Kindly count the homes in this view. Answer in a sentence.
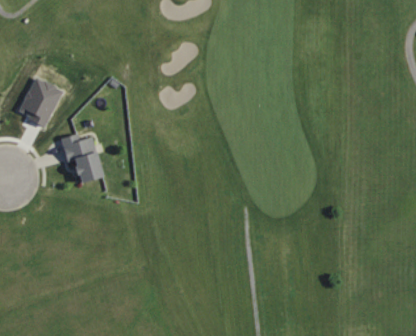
Altogether the scene contains 2 homes.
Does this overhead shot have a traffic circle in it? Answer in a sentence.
No, I can see no traffic circle in this picture.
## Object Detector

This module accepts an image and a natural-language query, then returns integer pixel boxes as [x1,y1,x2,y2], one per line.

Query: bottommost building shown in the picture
[62,135,101,182]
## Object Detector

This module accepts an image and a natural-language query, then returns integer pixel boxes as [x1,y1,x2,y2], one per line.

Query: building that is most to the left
[21,79,64,132]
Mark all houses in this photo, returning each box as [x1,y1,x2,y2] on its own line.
[21,79,64,132]
[62,135,101,182]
